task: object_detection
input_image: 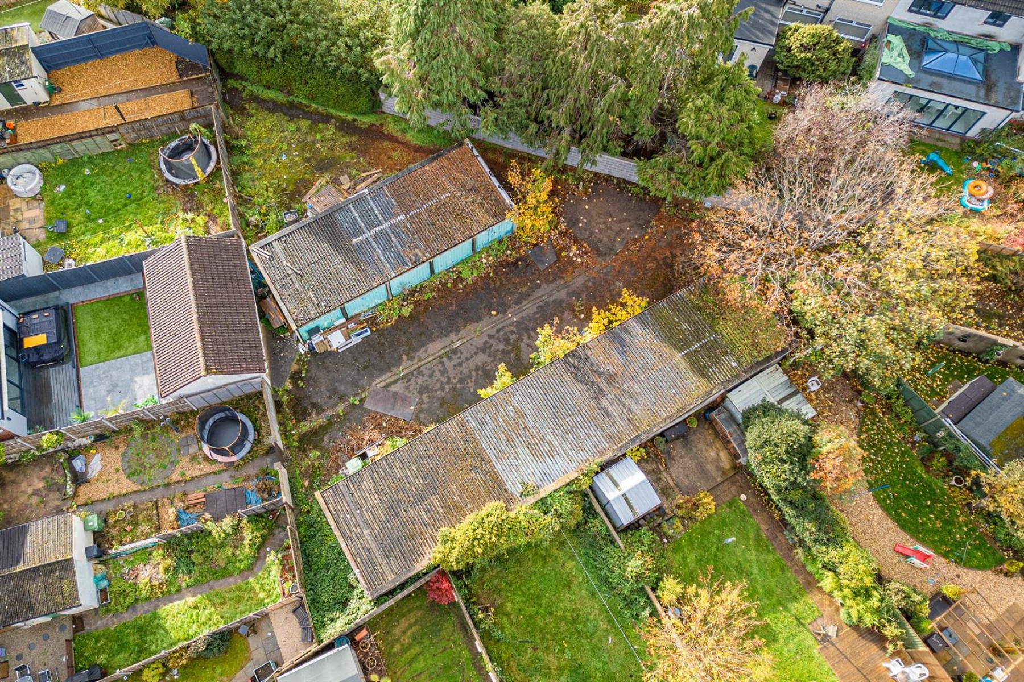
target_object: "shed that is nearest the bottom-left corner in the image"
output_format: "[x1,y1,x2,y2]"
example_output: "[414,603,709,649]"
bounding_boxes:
[0,511,102,636]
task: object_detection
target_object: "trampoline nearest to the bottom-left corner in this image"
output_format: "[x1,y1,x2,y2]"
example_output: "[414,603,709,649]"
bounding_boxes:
[187,402,261,470]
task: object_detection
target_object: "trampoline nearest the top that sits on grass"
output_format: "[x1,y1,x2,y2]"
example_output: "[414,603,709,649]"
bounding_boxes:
[157,127,221,190]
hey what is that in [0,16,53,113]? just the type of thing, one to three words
shed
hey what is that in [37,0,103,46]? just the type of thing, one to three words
shed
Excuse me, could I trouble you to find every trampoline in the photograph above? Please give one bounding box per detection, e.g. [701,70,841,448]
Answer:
[157,127,221,190]
[187,402,261,470]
